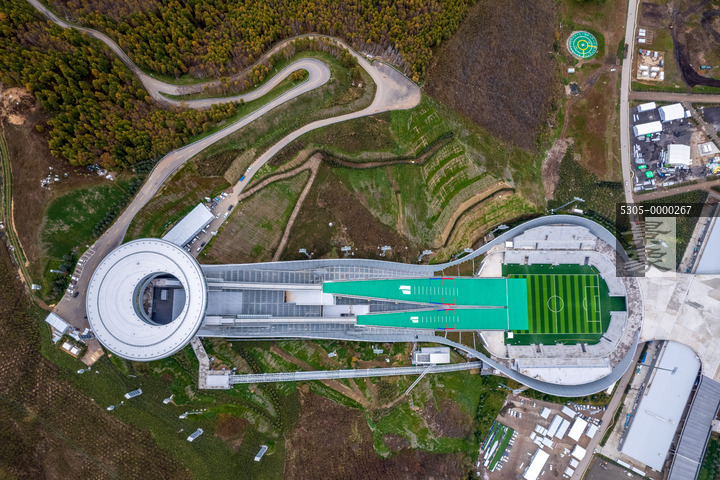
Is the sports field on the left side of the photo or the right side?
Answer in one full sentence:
The sports field appears in the right half of the scene.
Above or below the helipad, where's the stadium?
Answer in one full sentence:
Within the scene, the stadium can be found below the helipad.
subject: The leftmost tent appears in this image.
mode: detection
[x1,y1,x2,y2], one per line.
[523,447,548,479]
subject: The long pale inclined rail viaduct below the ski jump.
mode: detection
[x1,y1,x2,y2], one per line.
[231,360,487,385]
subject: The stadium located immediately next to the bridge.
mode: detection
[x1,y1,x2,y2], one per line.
[502,225,628,384]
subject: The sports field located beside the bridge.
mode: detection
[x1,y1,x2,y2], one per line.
[501,264,626,345]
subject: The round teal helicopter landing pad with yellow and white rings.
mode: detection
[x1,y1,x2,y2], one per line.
[568,30,598,58]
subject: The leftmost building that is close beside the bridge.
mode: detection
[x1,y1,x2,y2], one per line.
[86,238,211,361]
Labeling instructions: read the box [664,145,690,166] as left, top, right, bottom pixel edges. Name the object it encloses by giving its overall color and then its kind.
white tent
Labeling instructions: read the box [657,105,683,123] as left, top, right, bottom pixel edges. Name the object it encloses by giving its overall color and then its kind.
white tent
